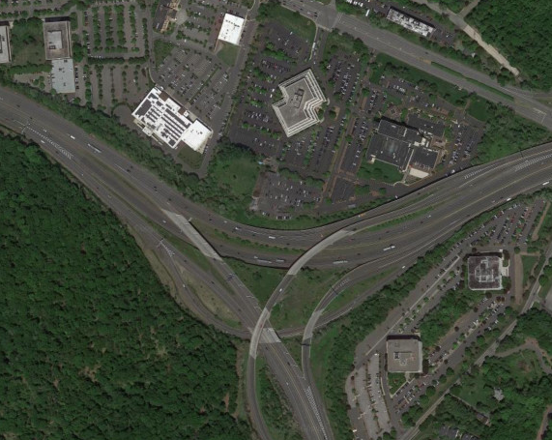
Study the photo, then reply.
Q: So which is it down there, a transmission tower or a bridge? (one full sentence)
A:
I can see a bridge in this picture.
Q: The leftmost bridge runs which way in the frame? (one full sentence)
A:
From this overhead view, the leftmost bridge appears to run at an angle.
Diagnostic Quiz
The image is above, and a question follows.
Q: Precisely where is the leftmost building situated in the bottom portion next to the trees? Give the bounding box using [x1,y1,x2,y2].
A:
[387,339,421,372]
